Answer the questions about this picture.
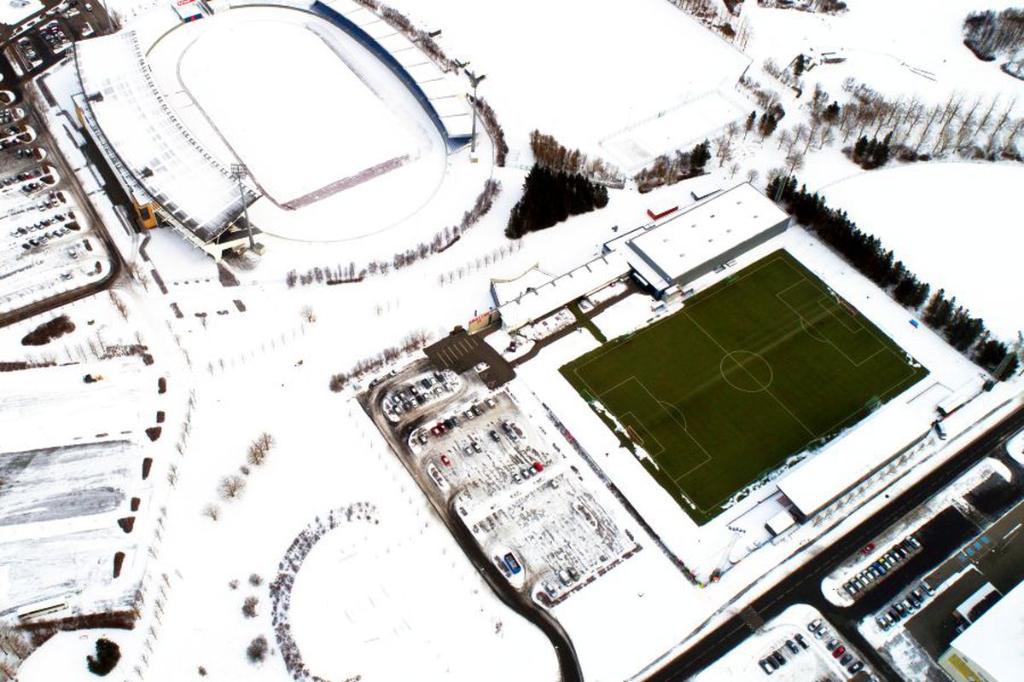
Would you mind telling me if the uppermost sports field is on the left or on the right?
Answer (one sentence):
The uppermost sports field is on the right side of the image.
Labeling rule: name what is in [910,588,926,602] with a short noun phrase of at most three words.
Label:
car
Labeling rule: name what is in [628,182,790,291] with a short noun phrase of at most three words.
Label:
building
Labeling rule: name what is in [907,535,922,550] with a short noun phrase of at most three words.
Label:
car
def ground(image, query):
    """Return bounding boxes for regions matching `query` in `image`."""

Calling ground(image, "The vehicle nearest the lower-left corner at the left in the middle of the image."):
[82,372,106,384]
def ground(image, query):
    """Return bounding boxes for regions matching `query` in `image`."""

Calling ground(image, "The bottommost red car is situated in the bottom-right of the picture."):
[832,646,846,659]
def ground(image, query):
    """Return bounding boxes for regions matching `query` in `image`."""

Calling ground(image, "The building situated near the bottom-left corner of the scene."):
[18,599,68,620]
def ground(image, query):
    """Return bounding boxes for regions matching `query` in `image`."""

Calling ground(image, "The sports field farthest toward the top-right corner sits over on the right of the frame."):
[599,91,751,175]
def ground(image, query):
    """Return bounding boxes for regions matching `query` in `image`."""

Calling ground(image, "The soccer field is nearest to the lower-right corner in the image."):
[559,247,929,525]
